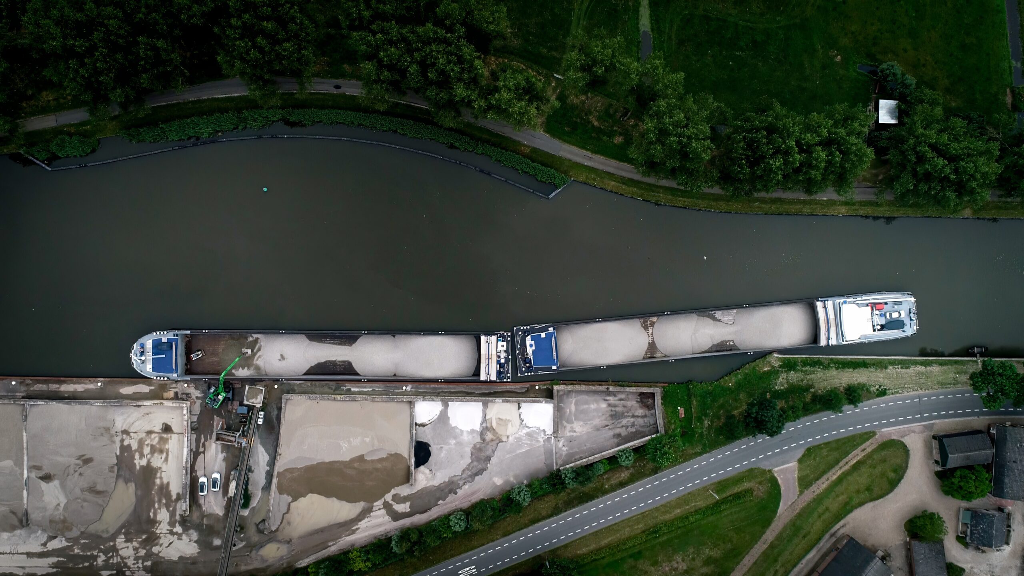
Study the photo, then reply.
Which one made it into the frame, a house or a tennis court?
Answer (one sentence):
This aerial view contains a house.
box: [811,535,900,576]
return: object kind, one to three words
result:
barn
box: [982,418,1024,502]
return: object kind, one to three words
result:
barn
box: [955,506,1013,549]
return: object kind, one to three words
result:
house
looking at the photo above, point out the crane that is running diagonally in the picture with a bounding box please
[205,348,255,410]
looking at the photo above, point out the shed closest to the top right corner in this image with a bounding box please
[873,100,898,125]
